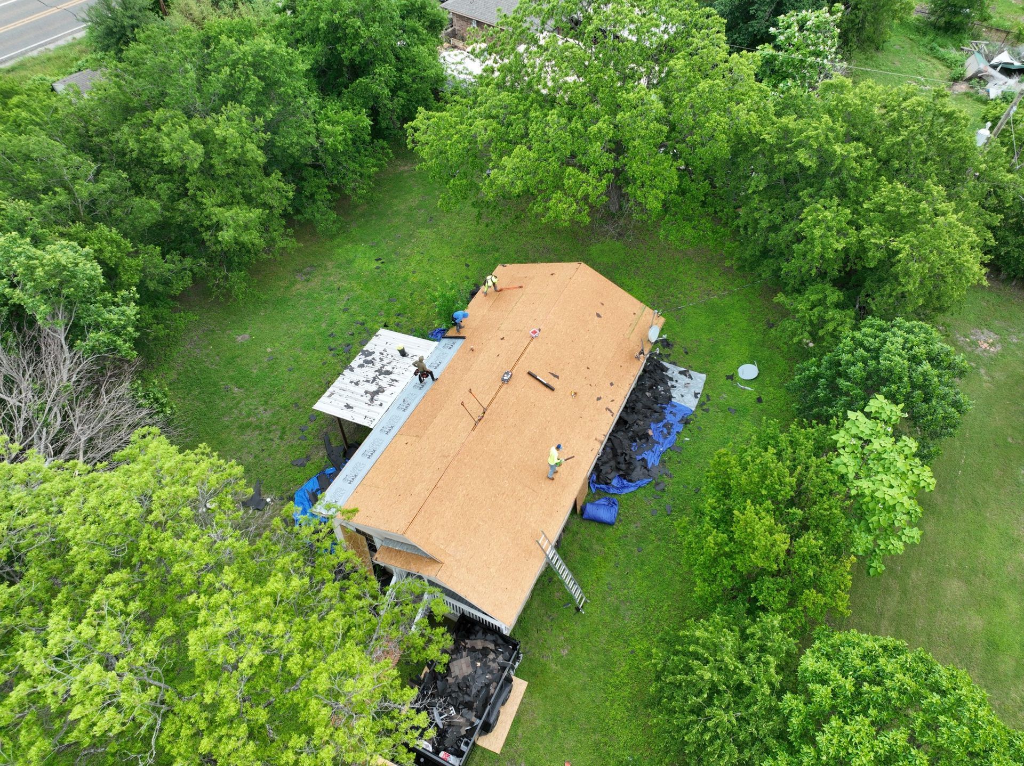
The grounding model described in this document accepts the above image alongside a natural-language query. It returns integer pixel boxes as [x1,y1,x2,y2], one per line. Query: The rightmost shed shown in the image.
[964,50,1024,98]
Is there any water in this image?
No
